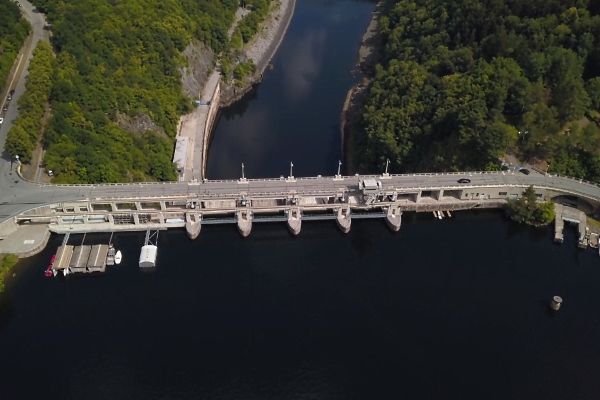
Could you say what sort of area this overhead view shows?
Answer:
port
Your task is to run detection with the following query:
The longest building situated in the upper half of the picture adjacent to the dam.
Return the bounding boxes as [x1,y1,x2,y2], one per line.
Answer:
[169,136,188,179]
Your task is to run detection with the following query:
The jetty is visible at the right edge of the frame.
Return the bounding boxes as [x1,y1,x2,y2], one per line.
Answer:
[551,206,589,250]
